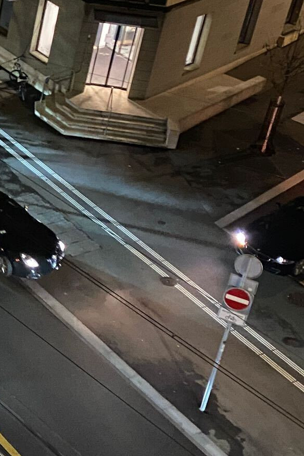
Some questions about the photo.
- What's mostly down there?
paved ground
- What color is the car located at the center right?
black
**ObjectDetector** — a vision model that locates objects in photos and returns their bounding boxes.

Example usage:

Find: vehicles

[232,188,304,276]
[0,191,71,278]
